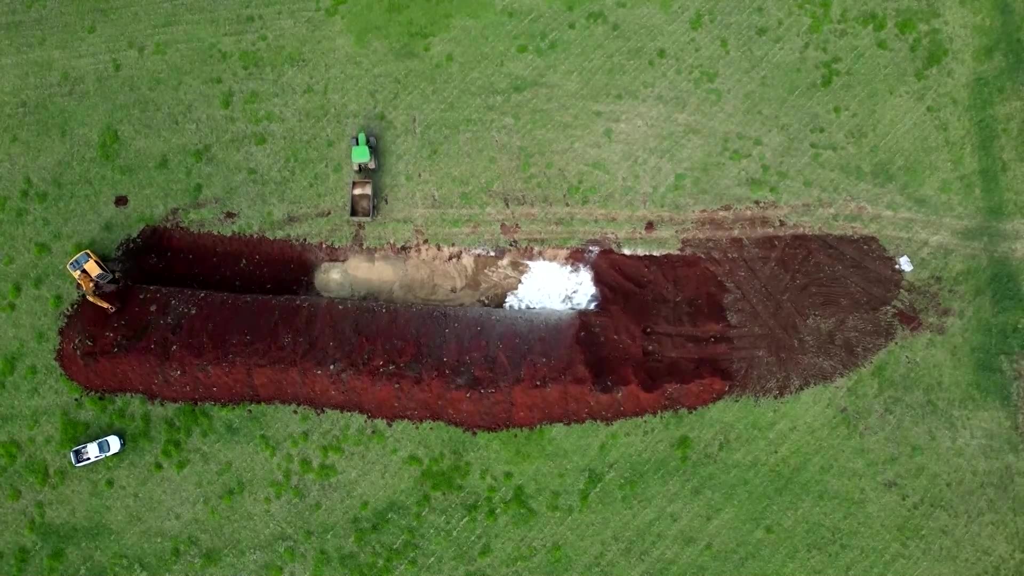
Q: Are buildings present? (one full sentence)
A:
No, this view has no building in it.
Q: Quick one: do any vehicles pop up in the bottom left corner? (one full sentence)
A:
Yes, there is a vehicle in the bottom left corner.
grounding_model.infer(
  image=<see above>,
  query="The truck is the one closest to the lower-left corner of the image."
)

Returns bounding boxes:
[70,434,127,467]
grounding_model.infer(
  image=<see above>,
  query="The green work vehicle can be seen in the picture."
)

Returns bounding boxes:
[348,133,377,180]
